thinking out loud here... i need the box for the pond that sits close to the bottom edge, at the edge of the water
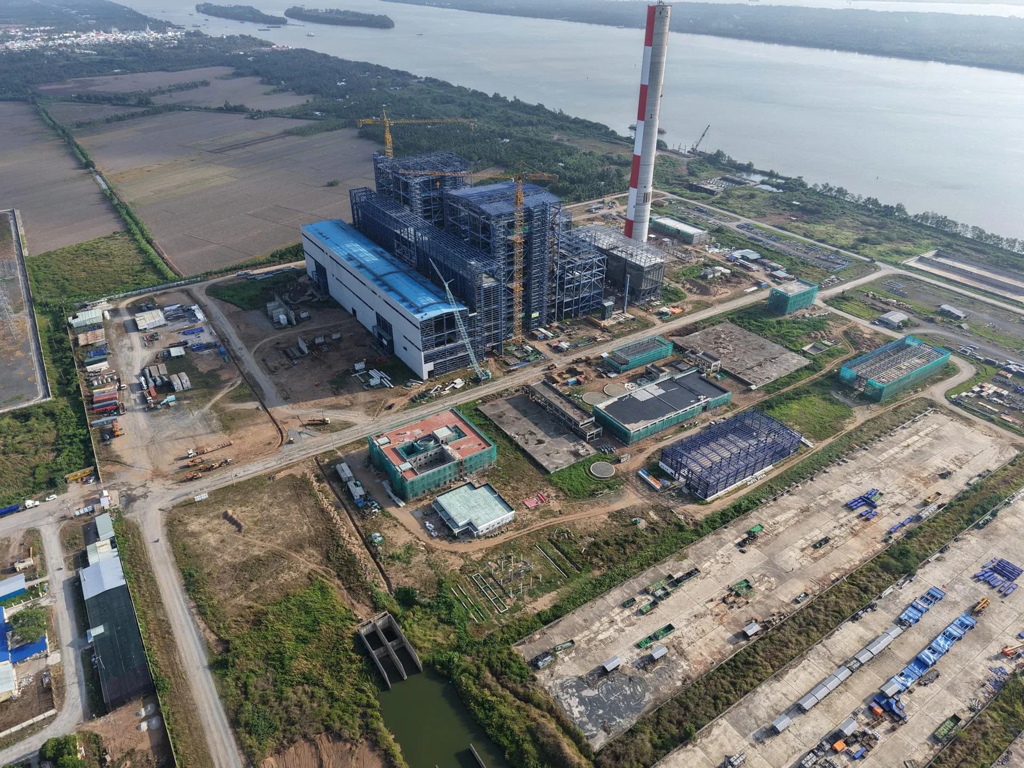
[372,657,511,768]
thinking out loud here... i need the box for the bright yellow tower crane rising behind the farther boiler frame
[359,111,476,206]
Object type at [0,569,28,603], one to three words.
house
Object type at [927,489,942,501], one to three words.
vehicle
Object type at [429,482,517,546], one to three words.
building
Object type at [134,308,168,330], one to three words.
shed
